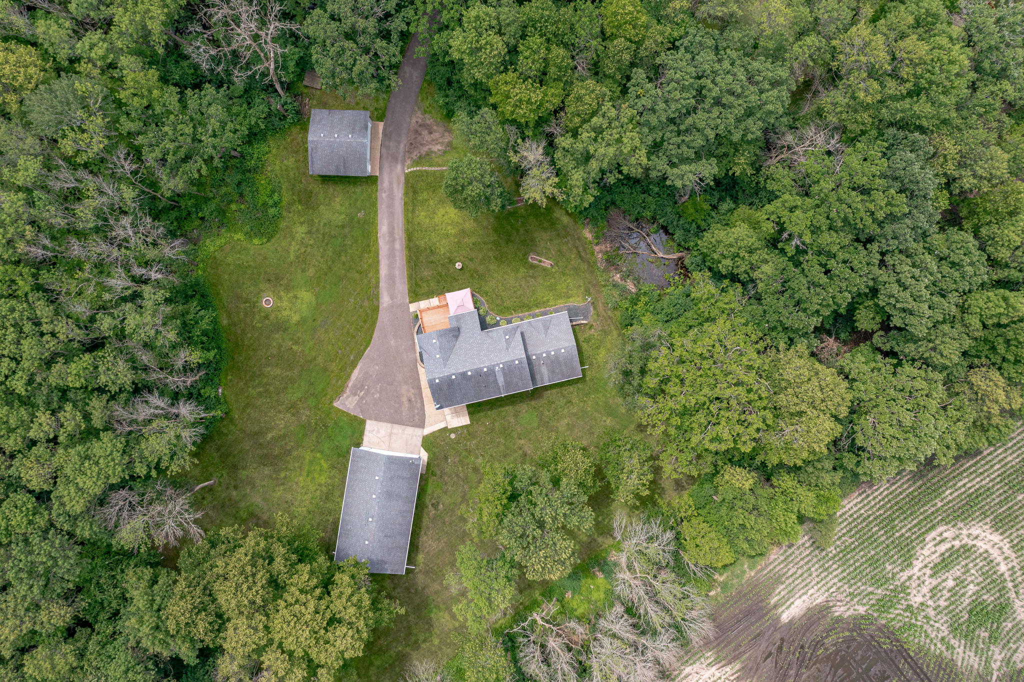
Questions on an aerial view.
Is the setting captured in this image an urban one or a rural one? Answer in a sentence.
The area is rural.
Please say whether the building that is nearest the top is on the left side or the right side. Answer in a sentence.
The building that is nearest the top sits on the left side.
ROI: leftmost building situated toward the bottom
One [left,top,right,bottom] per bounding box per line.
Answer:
[334,447,423,575]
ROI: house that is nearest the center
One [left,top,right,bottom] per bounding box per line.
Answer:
[416,309,587,412]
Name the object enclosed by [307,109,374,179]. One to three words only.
building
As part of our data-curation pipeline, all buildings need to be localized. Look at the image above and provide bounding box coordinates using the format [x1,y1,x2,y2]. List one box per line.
[307,109,374,179]
[334,447,423,575]
[416,309,587,412]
